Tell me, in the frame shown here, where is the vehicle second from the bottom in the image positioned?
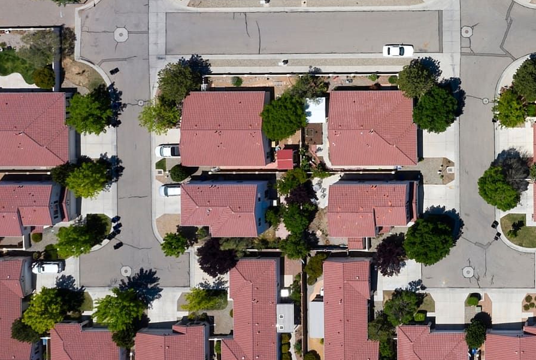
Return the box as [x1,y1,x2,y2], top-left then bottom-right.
[157,184,180,198]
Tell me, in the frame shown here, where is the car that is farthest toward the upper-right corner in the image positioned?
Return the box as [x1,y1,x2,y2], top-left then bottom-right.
[383,43,413,57]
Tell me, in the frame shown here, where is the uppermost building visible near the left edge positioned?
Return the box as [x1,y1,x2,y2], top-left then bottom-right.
[0,92,76,167]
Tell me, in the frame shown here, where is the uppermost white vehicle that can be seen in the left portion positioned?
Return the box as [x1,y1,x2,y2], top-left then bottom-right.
[153,144,181,159]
